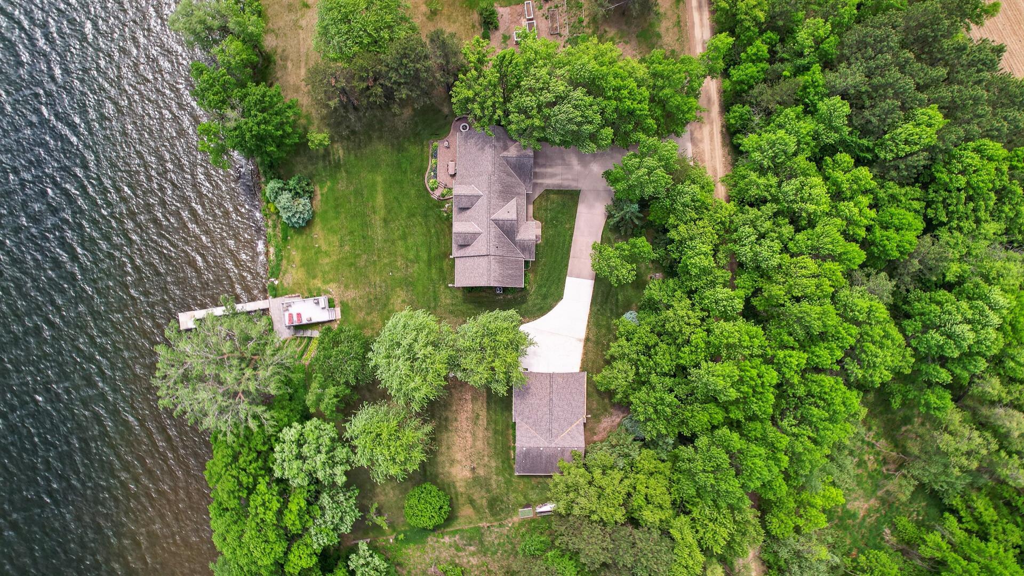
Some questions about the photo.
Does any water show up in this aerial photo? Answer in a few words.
Yes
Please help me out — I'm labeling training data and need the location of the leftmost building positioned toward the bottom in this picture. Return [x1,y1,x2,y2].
[512,371,591,475]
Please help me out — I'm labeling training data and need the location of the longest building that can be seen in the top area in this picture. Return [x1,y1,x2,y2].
[447,126,536,287]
